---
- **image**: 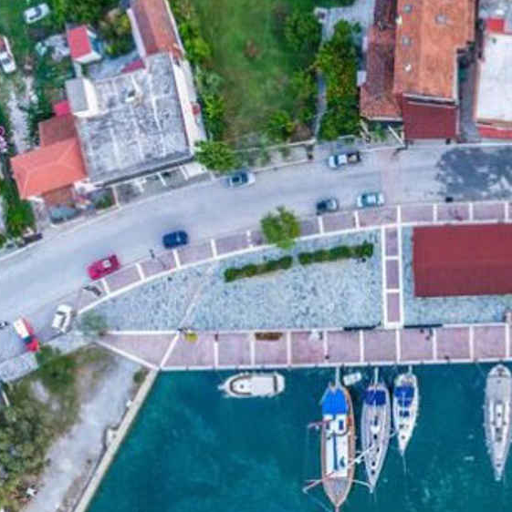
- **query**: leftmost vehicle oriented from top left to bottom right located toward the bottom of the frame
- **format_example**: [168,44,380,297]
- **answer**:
[11,314,42,353]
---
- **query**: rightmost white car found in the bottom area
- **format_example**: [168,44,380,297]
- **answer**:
[49,304,76,331]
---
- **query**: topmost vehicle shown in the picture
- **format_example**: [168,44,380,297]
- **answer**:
[21,1,53,25]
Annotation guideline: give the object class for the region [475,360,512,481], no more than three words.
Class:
boat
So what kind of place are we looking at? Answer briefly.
residential area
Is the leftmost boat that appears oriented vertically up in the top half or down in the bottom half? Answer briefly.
bottom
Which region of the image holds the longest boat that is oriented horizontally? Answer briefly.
bottom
